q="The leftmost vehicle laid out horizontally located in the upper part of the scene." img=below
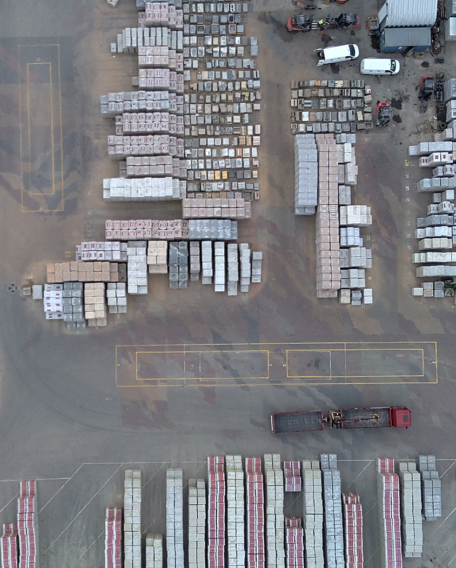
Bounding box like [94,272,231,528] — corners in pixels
[289,17,320,32]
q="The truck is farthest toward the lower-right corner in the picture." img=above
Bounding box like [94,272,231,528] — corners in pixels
[331,408,415,433]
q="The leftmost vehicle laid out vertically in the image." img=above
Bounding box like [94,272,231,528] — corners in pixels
[375,103,391,135]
